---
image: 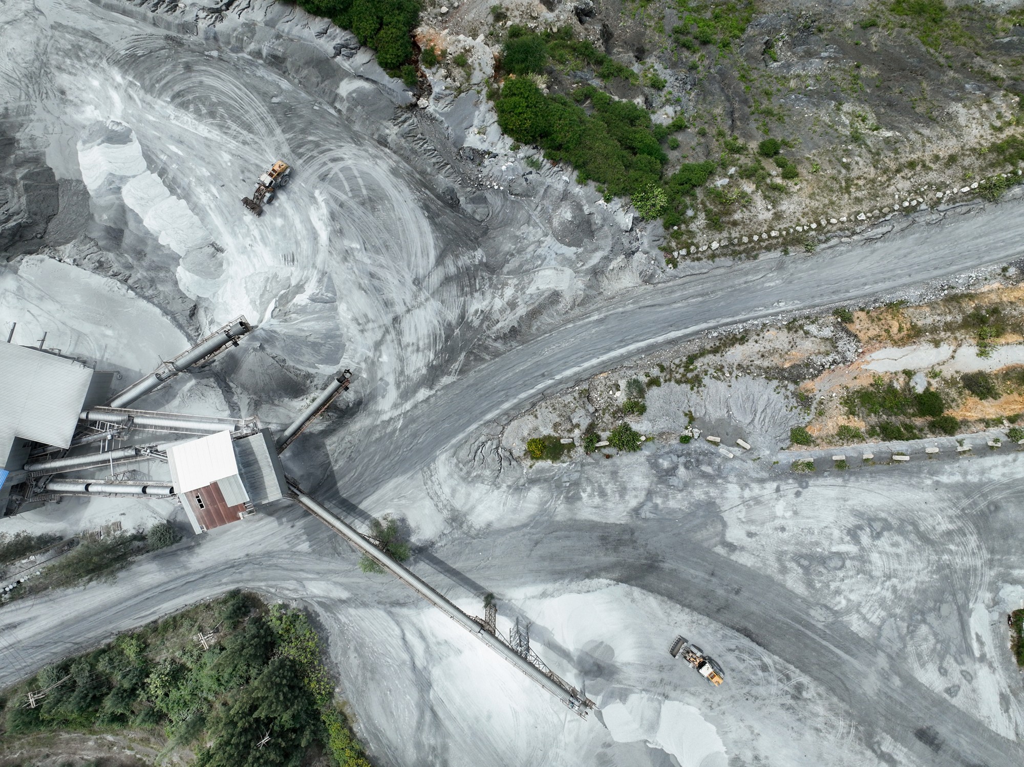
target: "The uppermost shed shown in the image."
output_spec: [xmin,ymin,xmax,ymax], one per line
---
[0,323,134,470]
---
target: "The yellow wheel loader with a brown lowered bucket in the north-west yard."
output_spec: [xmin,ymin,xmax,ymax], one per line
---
[240,152,289,217]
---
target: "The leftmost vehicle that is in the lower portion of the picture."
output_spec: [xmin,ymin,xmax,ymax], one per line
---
[666,632,727,691]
